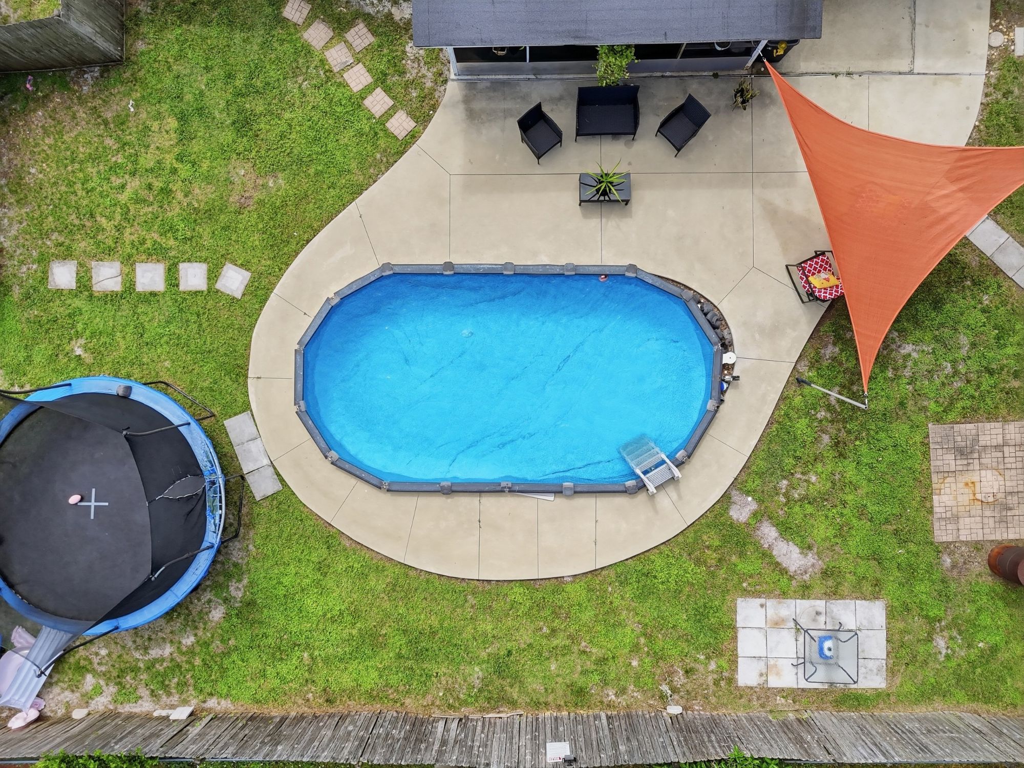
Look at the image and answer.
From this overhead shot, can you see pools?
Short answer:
Yes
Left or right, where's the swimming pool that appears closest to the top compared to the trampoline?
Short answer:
to the right of it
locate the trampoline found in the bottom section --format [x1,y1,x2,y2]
[0,376,246,671]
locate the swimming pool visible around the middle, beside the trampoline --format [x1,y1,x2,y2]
[294,262,722,495]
